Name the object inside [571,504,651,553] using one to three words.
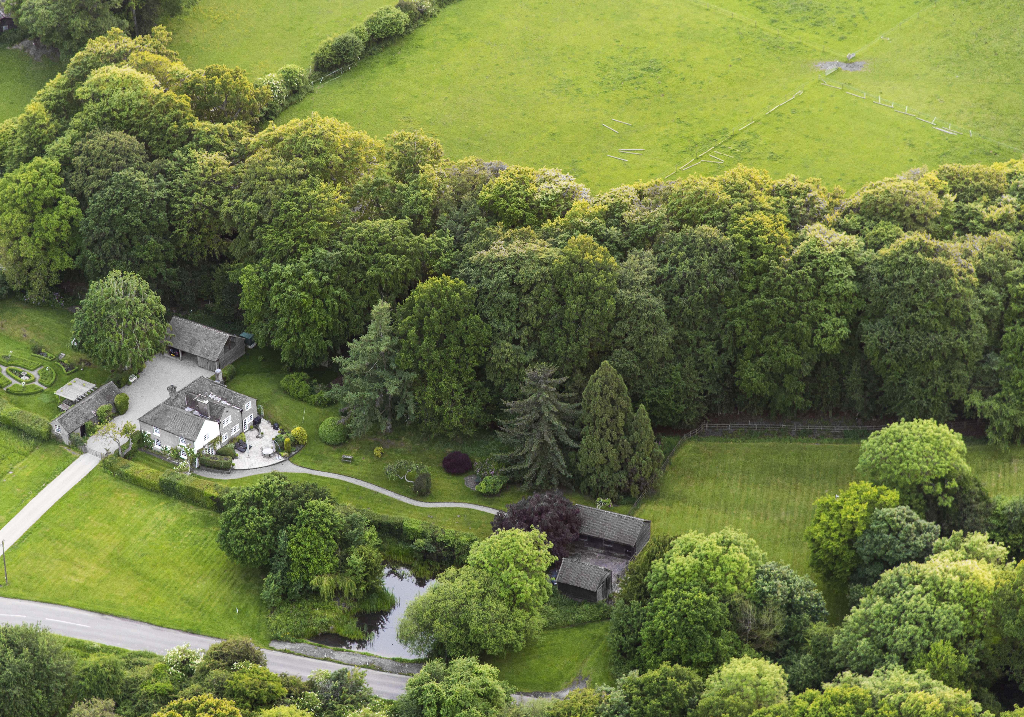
building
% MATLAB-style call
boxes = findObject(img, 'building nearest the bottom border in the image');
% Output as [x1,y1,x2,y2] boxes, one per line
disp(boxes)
[556,561,612,600]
